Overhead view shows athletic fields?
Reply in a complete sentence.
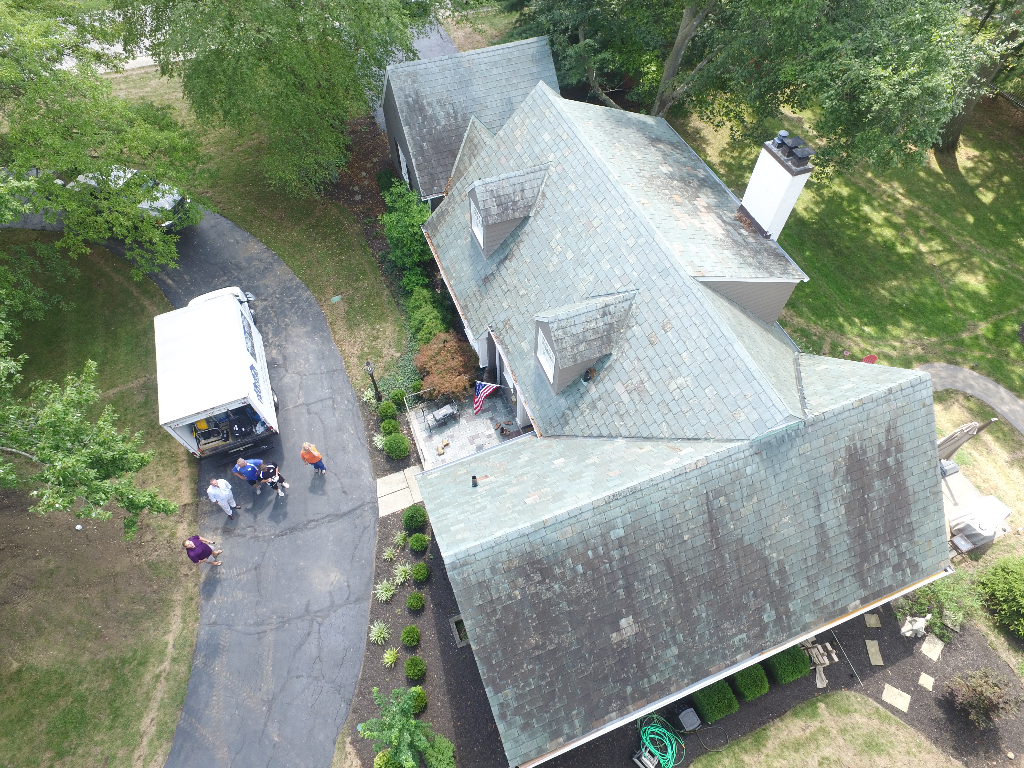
No, this view has no athletic field in it.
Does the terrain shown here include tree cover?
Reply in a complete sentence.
Yes, the picture does contain tree cover.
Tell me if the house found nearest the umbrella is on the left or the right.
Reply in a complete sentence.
You can find the house found nearest the umbrella on the right side of the picture.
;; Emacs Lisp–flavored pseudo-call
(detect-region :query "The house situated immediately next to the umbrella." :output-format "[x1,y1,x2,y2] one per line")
[413,79,957,768]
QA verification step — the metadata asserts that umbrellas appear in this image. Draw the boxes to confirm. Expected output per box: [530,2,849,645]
[937,415,1000,462]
